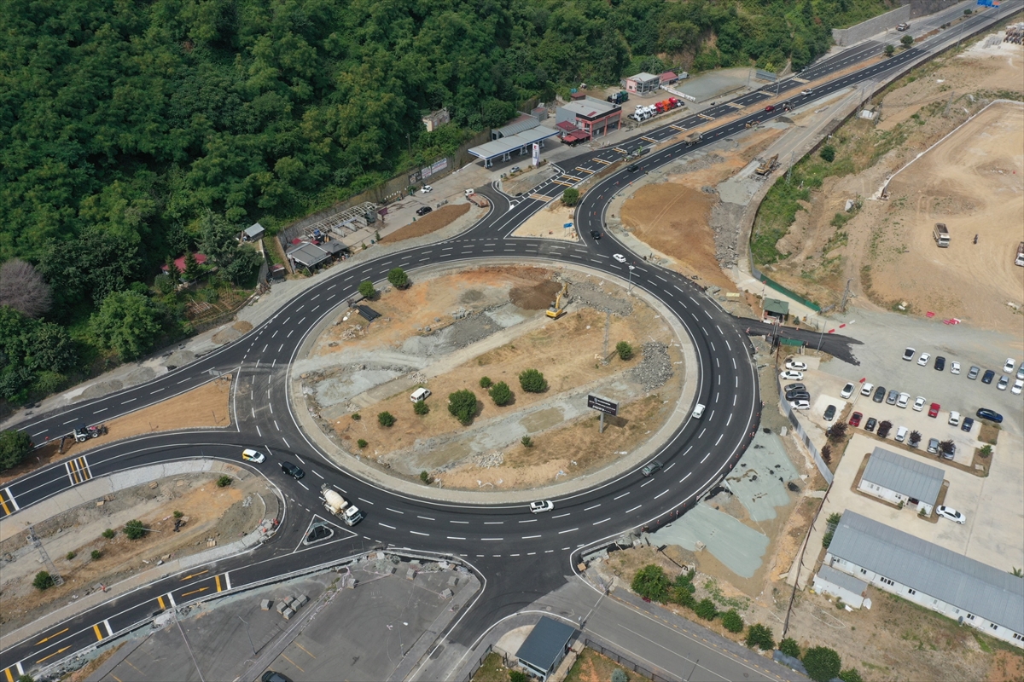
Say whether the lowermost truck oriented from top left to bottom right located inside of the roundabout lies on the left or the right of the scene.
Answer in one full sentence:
The lowermost truck oriented from top left to bottom right located inside of the roundabout appears in the left half of the scene.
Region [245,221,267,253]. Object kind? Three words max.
shed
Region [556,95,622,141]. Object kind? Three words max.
building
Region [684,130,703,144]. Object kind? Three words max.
vehicle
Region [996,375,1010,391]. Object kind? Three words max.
car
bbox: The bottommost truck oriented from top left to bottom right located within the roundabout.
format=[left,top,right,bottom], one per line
[320,480,362,522]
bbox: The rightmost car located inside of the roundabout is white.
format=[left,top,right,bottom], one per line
[692,404,705,419]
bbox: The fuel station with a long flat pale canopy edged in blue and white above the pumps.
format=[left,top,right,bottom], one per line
[470,123,559,170]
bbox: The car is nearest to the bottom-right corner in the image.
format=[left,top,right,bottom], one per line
[936,505,967,525]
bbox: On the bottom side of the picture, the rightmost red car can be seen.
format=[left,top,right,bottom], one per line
[927,402,942,418]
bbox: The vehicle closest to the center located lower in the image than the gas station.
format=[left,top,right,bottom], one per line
[545,280,566,317]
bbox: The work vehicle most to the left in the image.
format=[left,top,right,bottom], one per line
[62,420,108,447]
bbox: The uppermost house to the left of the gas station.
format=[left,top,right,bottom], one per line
[423,109,450,139]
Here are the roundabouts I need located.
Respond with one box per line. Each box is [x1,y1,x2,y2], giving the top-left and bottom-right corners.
[231,237,757,560]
